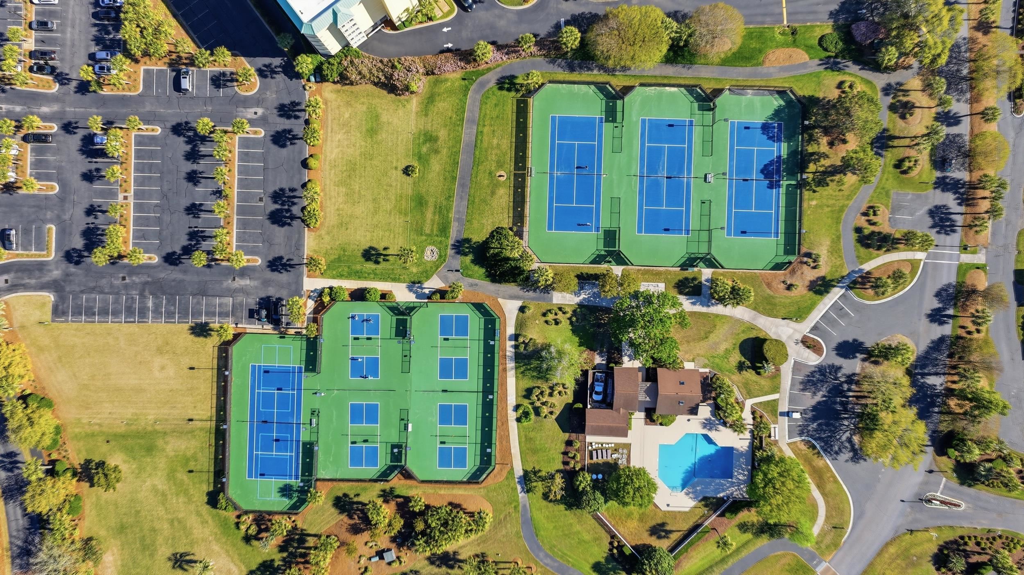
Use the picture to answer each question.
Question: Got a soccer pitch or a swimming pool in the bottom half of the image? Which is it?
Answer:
swimming pool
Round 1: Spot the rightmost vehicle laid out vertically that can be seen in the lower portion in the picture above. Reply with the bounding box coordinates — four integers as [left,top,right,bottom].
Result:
[592,372,605,401]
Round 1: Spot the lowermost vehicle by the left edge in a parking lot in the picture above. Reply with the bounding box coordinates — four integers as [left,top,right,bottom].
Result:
[2,228,16,251]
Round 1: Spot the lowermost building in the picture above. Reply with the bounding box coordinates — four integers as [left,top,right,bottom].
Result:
[585,407,629,437]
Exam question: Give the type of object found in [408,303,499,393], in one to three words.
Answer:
sports court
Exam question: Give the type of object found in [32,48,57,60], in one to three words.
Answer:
vehicle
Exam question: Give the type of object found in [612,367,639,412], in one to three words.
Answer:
building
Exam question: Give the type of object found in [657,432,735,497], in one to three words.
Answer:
swimming pool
